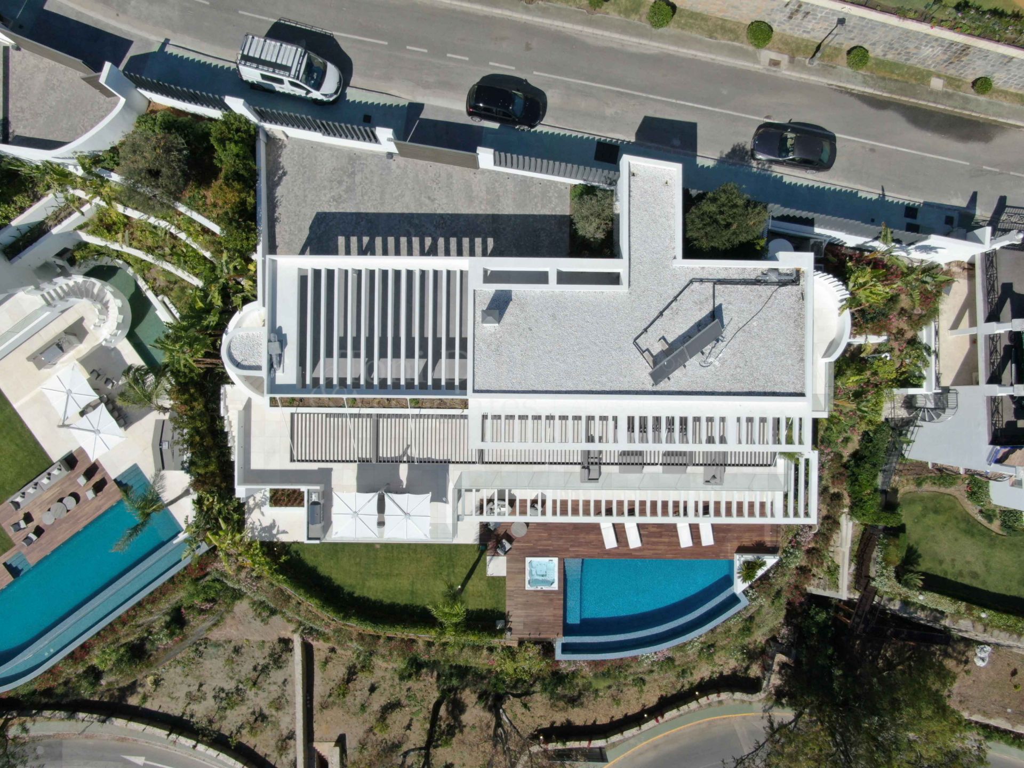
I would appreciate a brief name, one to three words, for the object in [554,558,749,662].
swimming pool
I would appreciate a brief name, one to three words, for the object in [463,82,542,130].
car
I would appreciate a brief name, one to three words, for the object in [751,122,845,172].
car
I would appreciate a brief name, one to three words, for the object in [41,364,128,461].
umbrella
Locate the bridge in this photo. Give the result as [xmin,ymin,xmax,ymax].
[837,589,952,651]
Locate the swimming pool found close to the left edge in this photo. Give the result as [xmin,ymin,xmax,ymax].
[0,465,216,696]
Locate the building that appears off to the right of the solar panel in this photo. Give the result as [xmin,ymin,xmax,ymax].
[945,257,1024,404]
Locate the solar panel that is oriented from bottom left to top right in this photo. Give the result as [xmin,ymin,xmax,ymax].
[639,319,723,385]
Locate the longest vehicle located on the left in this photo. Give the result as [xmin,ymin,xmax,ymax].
[226,32,341,102]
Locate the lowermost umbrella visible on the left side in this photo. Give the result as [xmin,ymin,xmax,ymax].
[332,478,431,539]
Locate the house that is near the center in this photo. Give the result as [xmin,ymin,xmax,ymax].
[222,156,851,451]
